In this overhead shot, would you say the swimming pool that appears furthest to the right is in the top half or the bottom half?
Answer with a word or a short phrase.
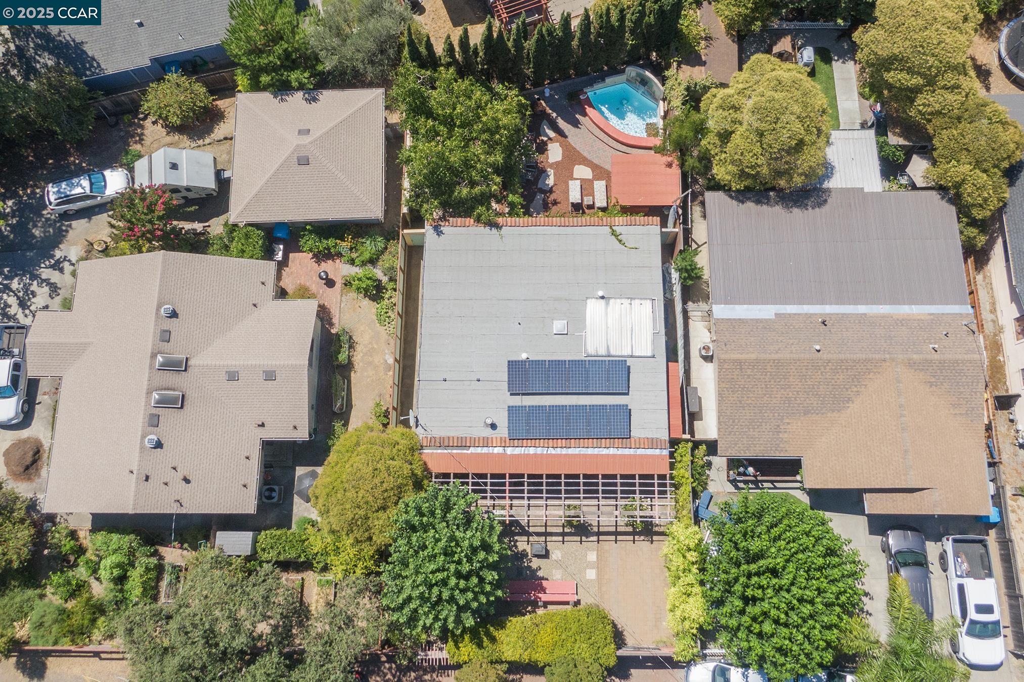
top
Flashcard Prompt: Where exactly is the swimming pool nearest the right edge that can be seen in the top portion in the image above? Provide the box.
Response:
[570,63,667,154]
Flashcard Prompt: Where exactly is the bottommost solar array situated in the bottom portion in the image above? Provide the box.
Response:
[507,405,631,438]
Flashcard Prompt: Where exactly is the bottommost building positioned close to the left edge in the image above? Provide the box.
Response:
[25,251,324,515]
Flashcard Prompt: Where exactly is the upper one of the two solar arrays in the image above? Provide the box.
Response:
[507,360,629,393]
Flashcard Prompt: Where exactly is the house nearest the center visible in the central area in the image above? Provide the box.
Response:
[413,217,683,474]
